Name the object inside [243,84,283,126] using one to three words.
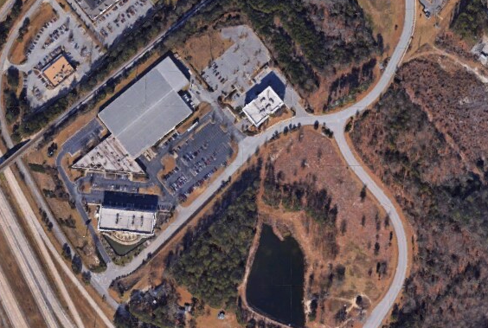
building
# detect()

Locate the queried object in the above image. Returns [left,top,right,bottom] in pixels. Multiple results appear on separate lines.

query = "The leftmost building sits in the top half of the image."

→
[41,54,75,85]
